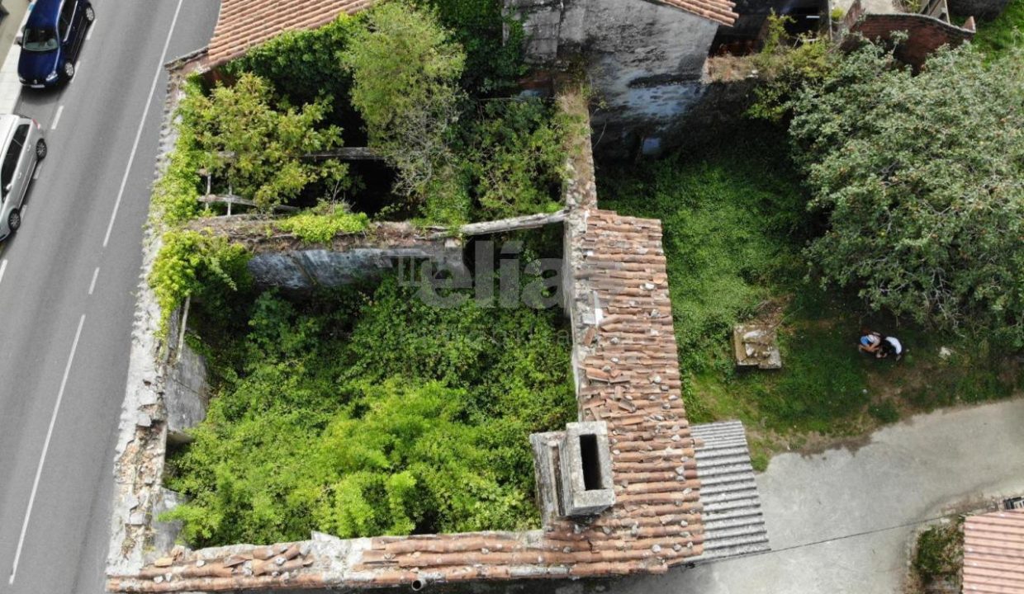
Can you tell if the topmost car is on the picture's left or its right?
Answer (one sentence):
The topmost car appears in the left half of the scene.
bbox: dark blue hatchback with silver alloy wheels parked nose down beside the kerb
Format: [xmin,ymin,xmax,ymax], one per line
[9,0,93,89]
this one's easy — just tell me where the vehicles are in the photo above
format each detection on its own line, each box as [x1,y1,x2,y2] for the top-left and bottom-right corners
[0,109,48,243]
[9,0,93,89]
